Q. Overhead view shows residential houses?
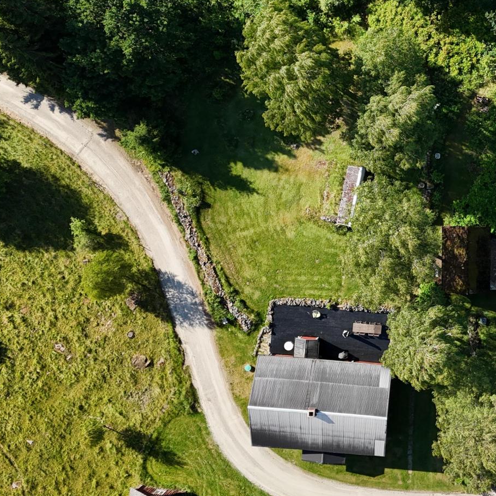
Yes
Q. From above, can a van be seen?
No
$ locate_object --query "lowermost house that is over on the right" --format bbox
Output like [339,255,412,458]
[247,335,393,468]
